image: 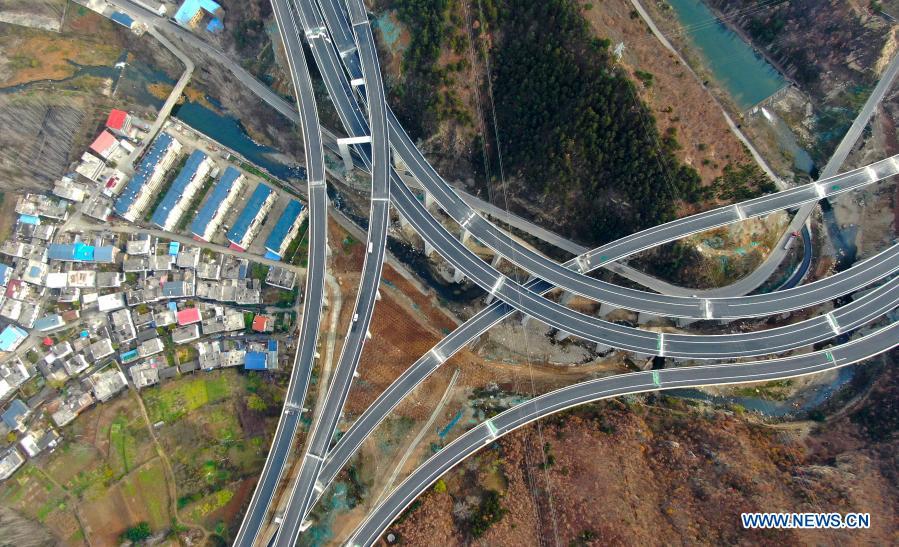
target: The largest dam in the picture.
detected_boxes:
[744,82,794,122]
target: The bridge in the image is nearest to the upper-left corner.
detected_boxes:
[145,18,194,137]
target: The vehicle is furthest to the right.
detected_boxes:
[786,232,799,249]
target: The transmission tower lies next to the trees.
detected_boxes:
[607,39,636,77]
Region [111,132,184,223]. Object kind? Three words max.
building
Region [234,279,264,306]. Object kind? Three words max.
house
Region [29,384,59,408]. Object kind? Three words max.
shed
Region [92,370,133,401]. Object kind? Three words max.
house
